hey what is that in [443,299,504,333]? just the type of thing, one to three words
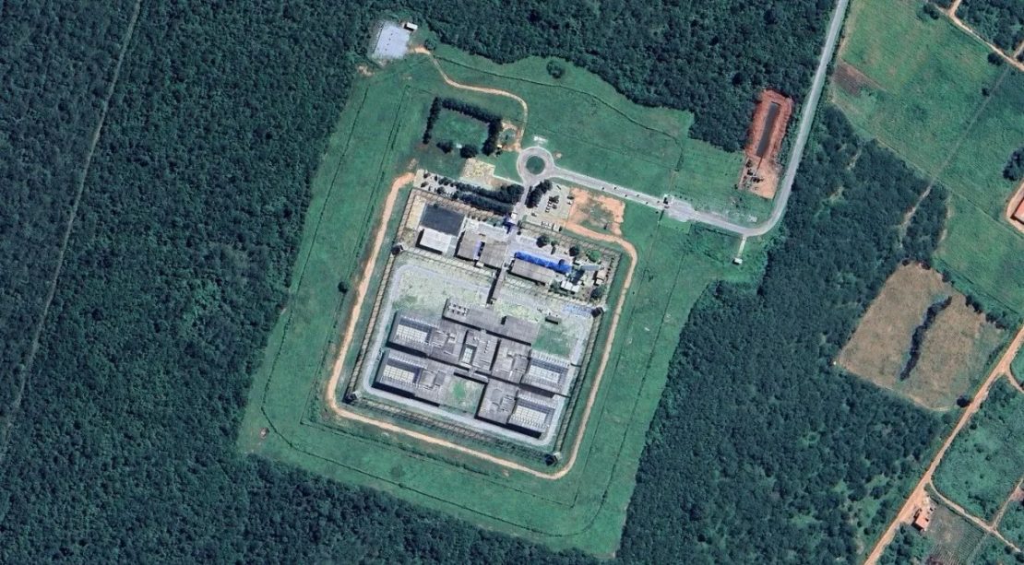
building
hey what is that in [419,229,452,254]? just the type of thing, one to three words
building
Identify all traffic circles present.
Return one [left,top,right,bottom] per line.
[517,147,554,182]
